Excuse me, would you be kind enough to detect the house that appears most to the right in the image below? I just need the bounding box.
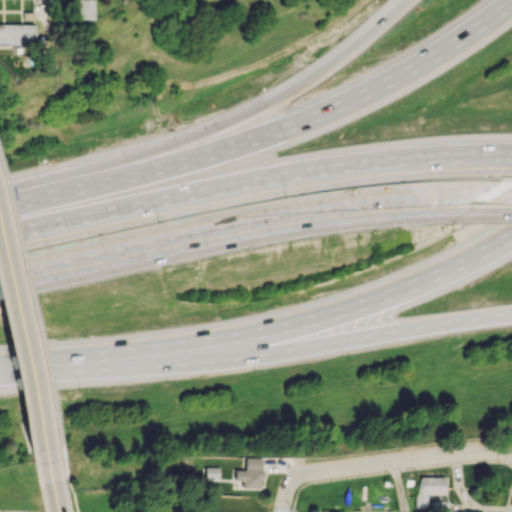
[418,478,450,512]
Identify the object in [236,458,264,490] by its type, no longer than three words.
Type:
house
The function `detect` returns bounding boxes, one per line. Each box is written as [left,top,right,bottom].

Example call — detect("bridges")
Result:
[0,138,66,450]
